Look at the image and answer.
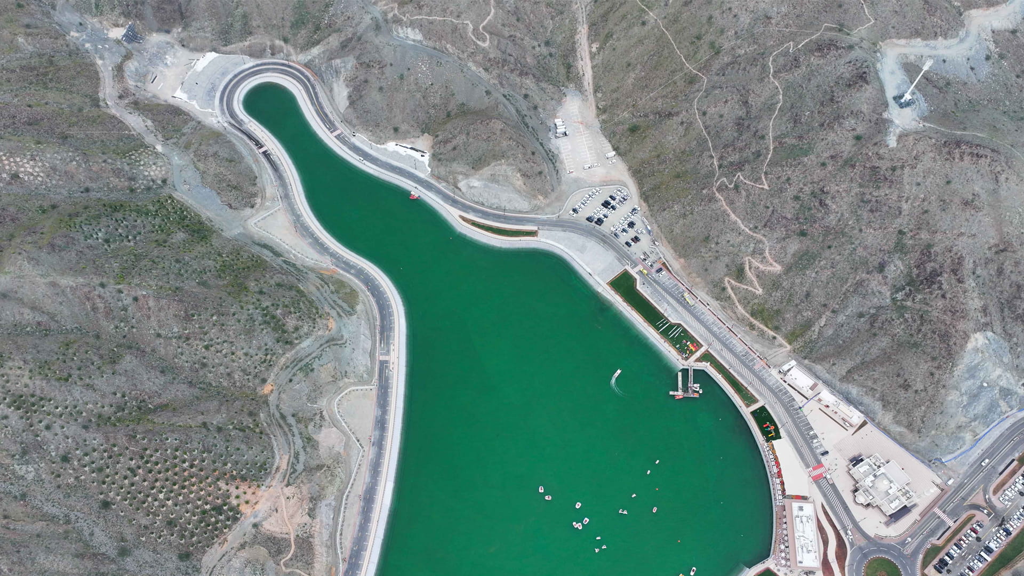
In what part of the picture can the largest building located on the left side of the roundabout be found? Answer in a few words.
bottom right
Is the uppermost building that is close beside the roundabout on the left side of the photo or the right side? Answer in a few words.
right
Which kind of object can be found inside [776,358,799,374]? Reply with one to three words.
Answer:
vehicle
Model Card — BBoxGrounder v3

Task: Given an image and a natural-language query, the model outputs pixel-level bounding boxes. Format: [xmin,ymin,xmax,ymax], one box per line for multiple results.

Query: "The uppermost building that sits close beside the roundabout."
[847,453,917,525]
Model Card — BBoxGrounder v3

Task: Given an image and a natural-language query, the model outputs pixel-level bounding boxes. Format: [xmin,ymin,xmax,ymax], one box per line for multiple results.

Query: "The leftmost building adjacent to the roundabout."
[785,501,823,570]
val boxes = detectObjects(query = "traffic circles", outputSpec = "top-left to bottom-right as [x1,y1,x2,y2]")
[847,533,917,576]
